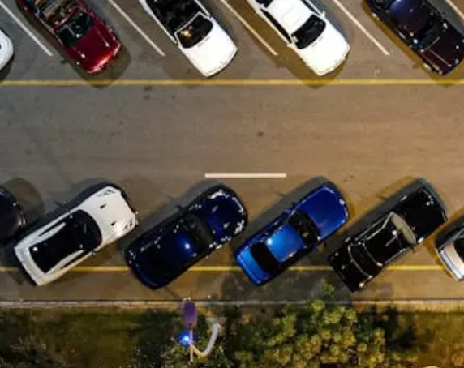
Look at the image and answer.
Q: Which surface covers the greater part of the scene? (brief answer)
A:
paved ground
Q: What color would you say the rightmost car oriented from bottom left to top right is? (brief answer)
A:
black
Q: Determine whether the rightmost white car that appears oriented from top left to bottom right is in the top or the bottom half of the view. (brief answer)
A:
top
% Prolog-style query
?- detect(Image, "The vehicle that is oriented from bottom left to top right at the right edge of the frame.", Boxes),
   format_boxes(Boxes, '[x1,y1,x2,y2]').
[328,185,442,287]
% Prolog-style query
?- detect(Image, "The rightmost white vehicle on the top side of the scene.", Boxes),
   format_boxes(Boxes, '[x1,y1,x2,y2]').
[249,0,343,73]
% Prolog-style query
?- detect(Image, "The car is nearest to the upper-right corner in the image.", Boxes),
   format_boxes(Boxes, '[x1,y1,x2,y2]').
[366,0,464,72]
